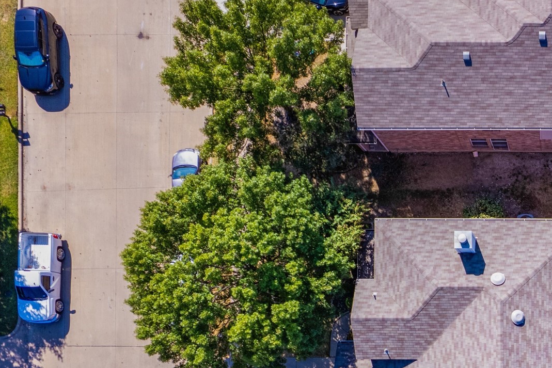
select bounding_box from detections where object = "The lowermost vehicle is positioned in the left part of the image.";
[12,231,65,323]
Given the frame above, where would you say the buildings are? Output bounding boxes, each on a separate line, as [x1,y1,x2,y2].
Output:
[342,0,552,153]
[334,217,552,368]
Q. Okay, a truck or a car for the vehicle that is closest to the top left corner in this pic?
car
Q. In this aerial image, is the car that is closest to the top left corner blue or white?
blue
